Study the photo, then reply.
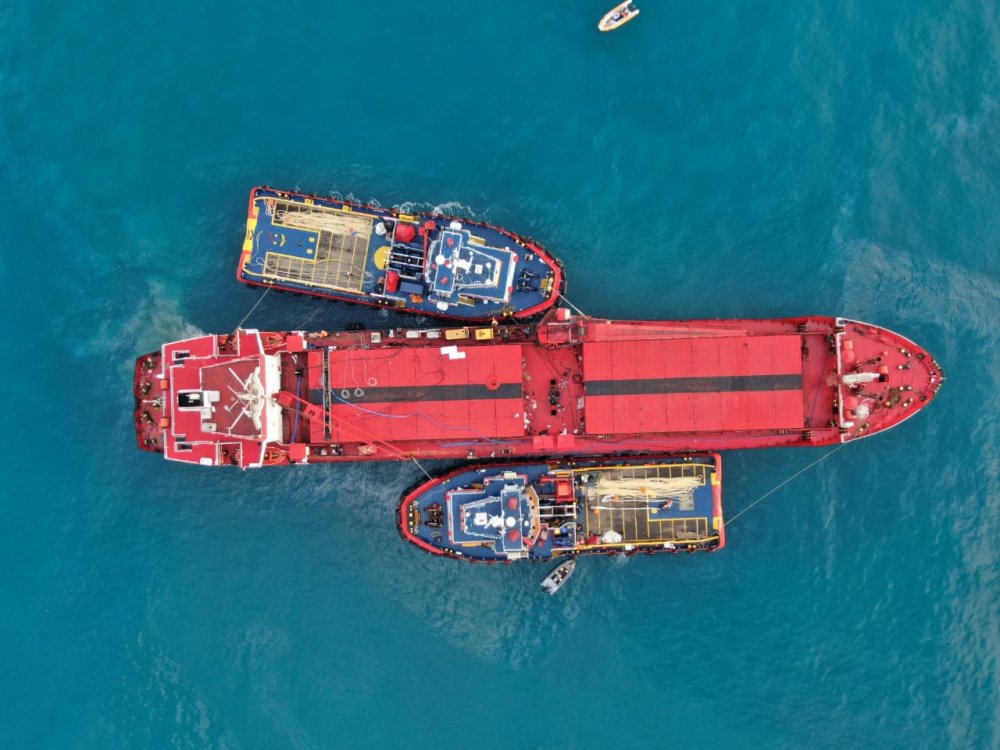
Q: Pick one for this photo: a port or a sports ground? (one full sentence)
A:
It's a port.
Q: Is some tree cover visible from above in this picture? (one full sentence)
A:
No, there's no tree cover in this view.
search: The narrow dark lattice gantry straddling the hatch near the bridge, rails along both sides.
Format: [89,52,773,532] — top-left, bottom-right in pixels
[322,344,340,441]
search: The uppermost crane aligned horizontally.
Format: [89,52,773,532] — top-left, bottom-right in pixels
[536,309,754,348]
